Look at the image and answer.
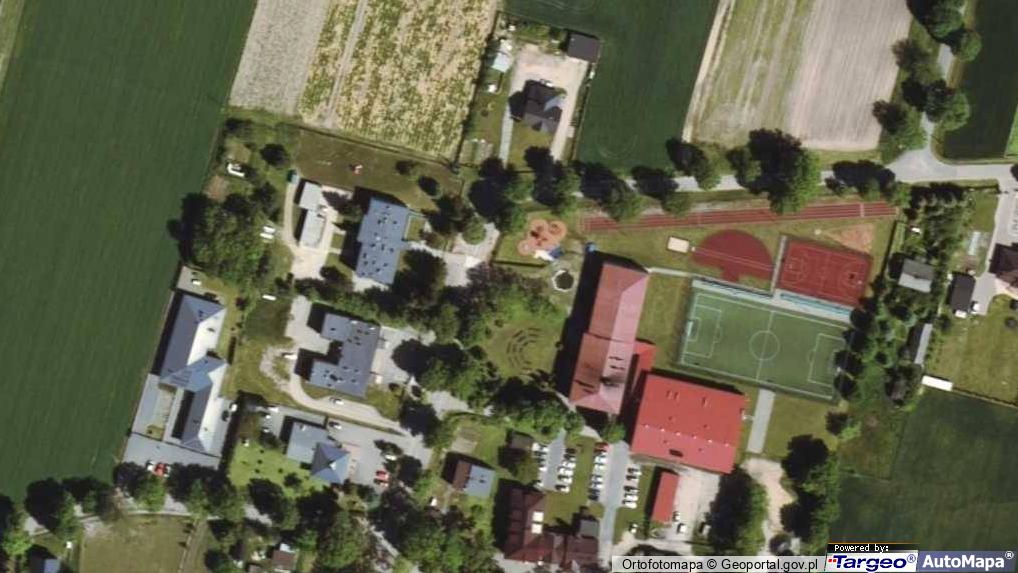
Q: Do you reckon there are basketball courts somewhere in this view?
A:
Yes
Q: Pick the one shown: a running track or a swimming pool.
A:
running track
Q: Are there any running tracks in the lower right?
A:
No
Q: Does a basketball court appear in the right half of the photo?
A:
Yes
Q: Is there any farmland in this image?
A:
Yes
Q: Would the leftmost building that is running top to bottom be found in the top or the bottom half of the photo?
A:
bottom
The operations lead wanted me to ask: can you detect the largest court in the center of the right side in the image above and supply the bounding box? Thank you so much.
[778,238,871,304]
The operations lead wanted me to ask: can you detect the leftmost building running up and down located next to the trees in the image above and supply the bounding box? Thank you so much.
[160,295,228,454]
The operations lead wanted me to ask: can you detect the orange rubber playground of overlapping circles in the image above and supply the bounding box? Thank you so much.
[518,220,568,256]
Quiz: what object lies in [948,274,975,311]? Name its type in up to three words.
building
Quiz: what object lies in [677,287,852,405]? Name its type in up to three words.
soccer field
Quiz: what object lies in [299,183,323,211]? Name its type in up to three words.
shed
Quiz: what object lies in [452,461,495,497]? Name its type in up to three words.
house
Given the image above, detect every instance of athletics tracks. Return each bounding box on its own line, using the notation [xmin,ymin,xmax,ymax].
[582,203,898,232]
